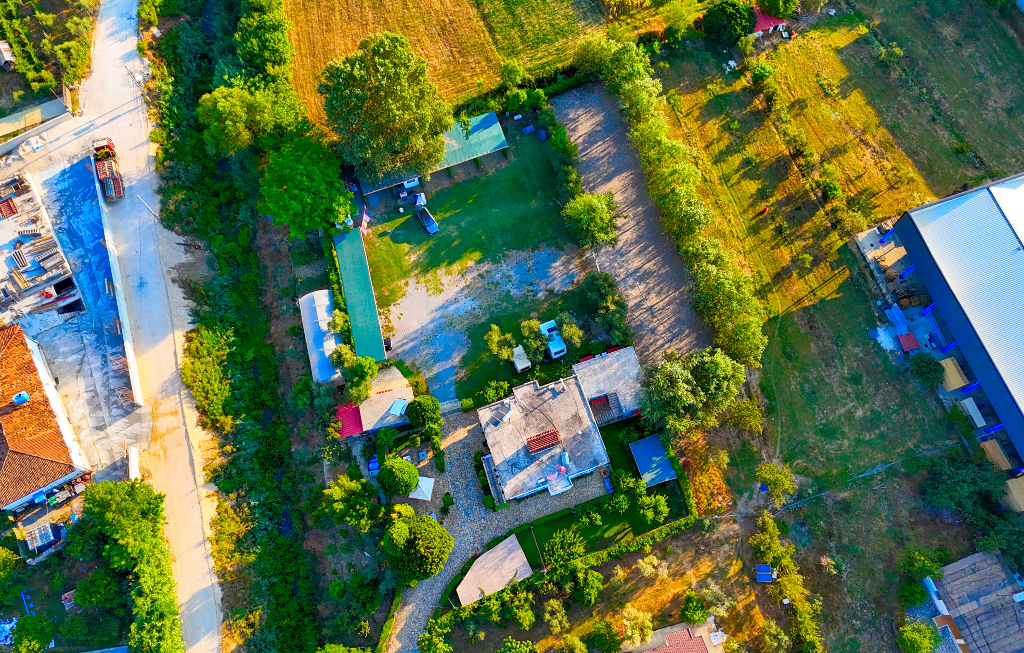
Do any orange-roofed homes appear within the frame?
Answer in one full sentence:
Yes, an orange-roofed home is visible in the scene.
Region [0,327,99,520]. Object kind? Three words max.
house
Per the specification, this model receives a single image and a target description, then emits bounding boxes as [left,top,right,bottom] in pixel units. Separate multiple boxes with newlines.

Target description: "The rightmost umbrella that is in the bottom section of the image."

[408,477,434,500]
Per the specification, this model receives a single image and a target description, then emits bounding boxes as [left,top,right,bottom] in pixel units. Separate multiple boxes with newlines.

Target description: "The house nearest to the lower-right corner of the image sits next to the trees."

[925,553,1024,653]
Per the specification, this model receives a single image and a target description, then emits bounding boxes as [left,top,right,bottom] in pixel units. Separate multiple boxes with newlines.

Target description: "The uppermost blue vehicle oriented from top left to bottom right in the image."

[415,205,440,237]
